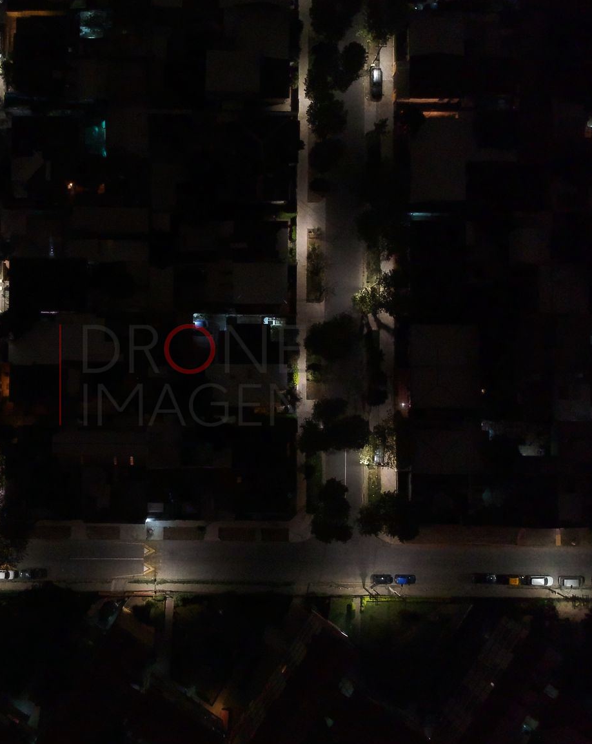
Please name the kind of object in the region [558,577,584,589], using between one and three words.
vehicle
